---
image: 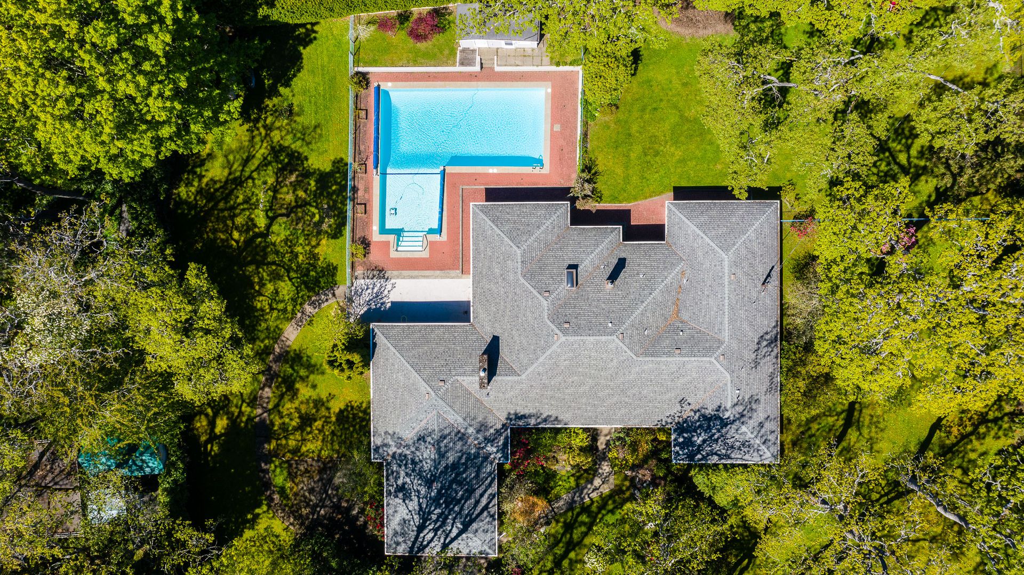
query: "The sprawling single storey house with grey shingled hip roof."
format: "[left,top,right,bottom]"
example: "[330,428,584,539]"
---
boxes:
[369,199,781,557]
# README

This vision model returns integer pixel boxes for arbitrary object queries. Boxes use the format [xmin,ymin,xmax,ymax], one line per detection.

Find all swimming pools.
[373,82,551,257]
